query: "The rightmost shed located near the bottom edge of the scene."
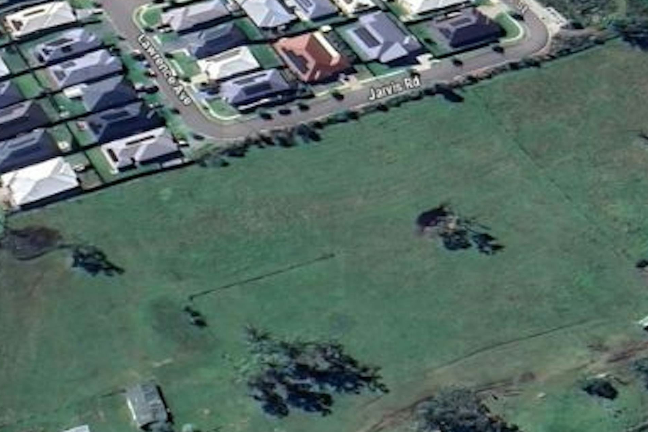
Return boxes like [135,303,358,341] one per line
[127,383,169,432]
